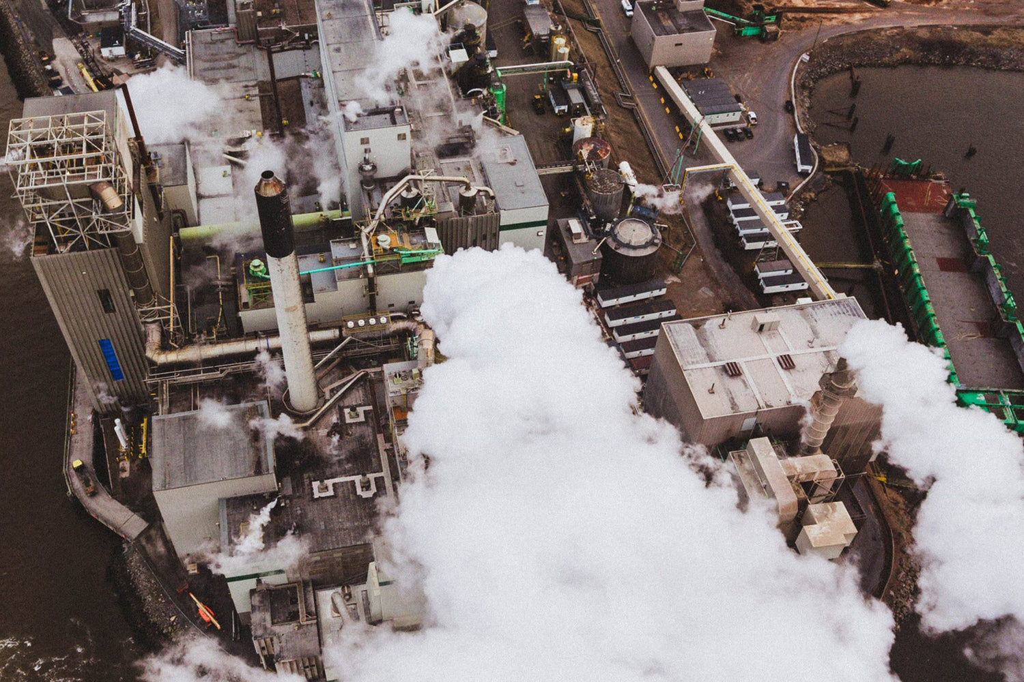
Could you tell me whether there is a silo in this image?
Yes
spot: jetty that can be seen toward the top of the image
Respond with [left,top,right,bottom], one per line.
[847,168,922,349]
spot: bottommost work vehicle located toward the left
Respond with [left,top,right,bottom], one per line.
[187,590,225,636]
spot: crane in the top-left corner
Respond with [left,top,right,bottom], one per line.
[76,61,113,89]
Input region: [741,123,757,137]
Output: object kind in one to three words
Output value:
car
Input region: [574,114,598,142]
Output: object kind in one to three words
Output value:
silo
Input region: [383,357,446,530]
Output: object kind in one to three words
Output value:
house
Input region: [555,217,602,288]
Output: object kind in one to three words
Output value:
building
